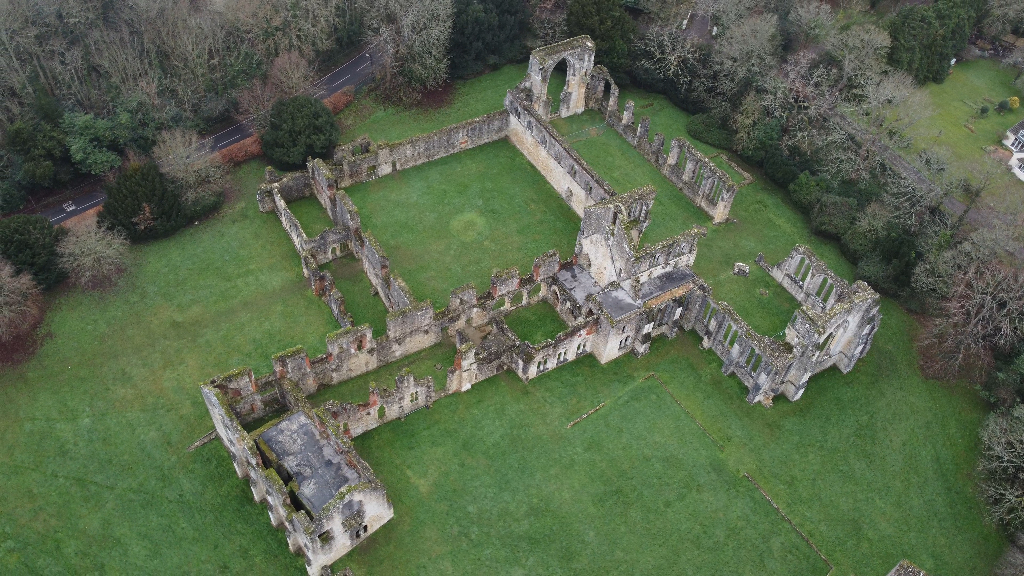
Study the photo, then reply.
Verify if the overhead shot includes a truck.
No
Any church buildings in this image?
Yes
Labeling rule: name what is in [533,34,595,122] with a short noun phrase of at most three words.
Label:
building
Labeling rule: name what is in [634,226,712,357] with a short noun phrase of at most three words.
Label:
building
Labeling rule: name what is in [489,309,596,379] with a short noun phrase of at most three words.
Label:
house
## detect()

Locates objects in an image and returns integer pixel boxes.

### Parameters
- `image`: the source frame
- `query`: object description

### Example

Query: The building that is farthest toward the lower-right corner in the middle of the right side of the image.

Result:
[764,280,893,401]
